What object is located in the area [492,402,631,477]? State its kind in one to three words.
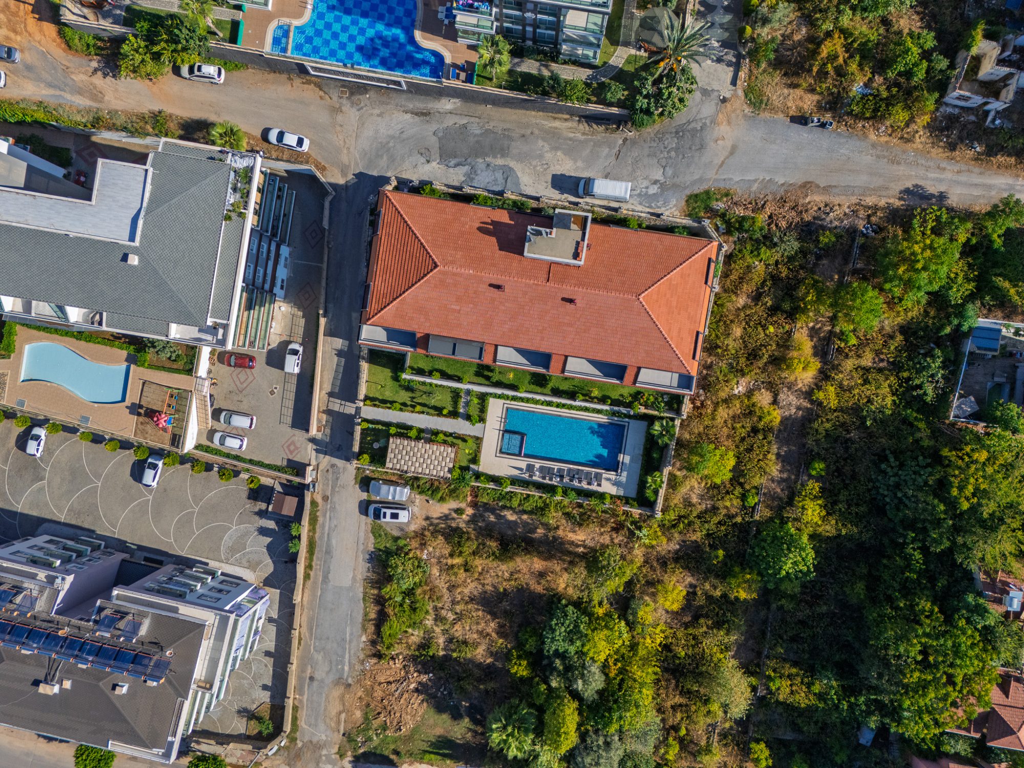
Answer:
swimming pool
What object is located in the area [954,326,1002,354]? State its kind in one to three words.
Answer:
shed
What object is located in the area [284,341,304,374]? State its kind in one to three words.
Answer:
car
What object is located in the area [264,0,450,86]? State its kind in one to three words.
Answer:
swimming pool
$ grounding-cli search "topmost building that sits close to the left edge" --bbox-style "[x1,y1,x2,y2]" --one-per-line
[0,137,307,354]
